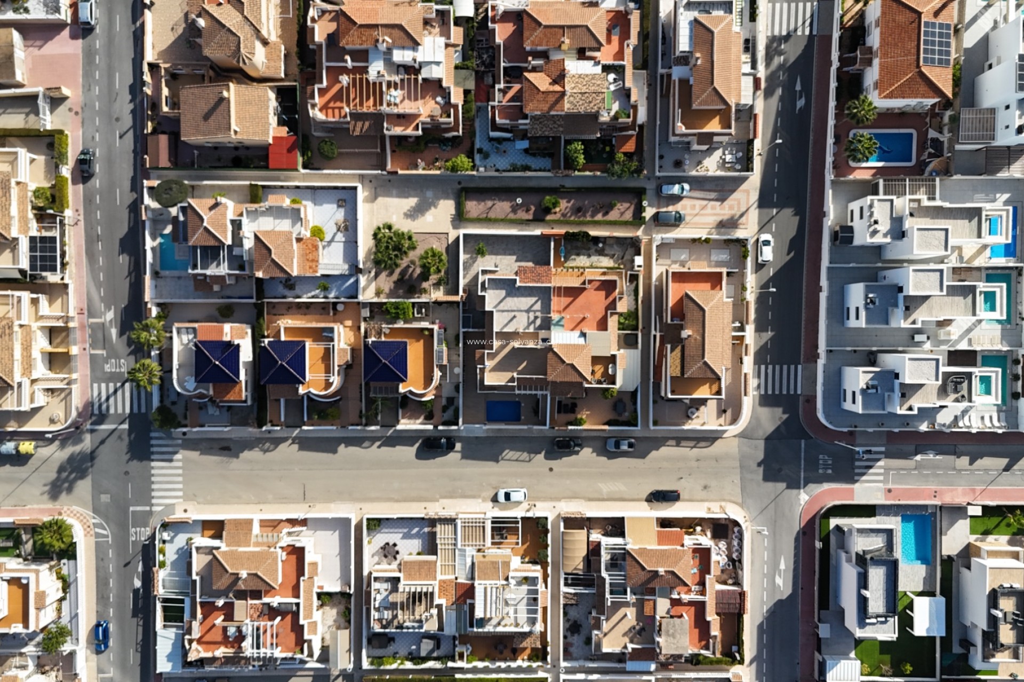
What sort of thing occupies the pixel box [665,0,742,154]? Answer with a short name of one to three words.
house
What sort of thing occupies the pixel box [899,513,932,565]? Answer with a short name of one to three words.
swimming pool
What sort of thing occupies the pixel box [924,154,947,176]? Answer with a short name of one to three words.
gazebo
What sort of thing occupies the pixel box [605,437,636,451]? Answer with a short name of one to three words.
car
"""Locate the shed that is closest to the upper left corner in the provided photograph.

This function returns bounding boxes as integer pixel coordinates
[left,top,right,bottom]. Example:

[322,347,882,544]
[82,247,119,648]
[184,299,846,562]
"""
[0,27,28,87]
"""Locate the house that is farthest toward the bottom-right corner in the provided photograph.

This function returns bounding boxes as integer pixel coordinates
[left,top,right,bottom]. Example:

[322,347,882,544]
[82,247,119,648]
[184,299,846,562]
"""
[948,537,1024,668]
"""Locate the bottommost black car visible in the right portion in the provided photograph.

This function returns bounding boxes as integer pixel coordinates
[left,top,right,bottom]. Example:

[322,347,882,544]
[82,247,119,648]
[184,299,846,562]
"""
[651,488,681,503]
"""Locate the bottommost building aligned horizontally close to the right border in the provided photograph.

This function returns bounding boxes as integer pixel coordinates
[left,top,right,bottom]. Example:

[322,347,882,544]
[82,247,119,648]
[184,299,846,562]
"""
[842,355,1001,414]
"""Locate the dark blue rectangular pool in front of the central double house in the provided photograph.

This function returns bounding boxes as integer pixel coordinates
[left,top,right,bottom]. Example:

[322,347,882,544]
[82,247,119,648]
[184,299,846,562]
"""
[485,400,522,423]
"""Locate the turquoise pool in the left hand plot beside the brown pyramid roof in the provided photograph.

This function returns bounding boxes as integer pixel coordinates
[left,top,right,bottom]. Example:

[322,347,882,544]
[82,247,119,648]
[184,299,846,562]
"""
[157,231,189,273]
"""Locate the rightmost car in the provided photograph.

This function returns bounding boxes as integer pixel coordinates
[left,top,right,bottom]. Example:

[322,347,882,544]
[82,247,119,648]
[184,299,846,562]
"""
[757,234,773,264]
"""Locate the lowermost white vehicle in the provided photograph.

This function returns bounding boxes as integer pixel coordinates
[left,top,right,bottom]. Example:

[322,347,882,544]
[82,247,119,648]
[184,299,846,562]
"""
[498,488,527,502]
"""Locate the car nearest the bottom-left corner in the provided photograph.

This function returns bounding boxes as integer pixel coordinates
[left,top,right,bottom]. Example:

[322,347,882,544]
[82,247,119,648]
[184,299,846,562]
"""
[94,619,111,651]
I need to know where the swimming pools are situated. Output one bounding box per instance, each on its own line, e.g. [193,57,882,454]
[988,205,1020,261]
[485,400,522,423]
[899,513,932,565]
[849,128,917,166]
[977,352,1012,410]
[157,231,189,273]
[982,270,1016,329]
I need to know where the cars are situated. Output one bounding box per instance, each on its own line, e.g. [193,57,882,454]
[94,619,111,651]
[498,488,527,502]
[186,676,215,682]
[757,234,773,264]
[654,209,685,225]
[659,182,689,197]
[79,0,96,30]
[651,488,681,503]
[79,149,95,177]
[423,436,456,451]
[552,437,581,451]
[605,437,636,451]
